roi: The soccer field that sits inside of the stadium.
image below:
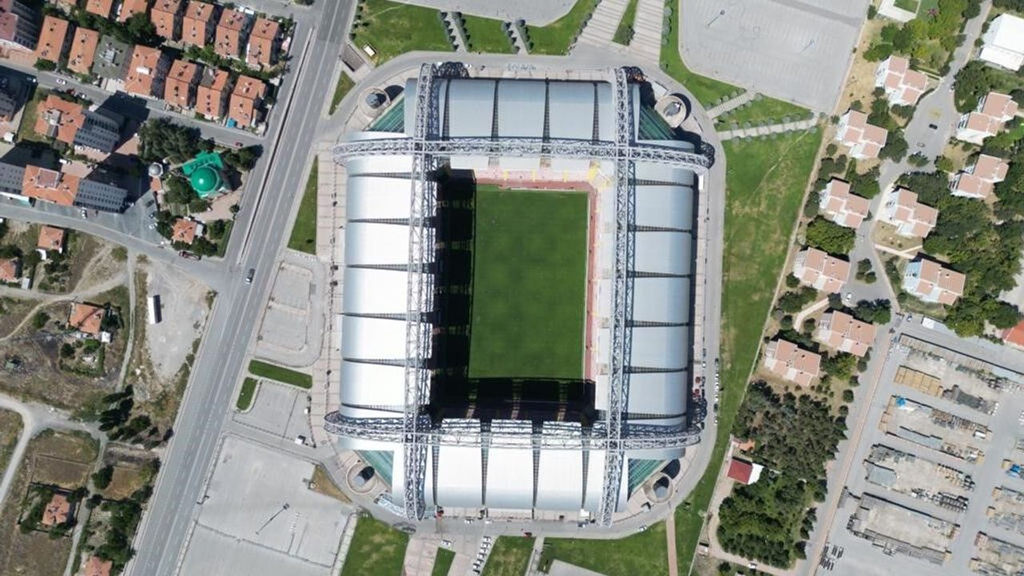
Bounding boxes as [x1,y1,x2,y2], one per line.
[437,178,598,409]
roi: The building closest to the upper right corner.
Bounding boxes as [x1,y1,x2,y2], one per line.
[956,20,1024,86]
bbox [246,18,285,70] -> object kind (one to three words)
house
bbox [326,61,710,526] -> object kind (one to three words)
stadium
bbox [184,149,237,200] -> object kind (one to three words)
building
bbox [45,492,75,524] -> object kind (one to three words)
house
